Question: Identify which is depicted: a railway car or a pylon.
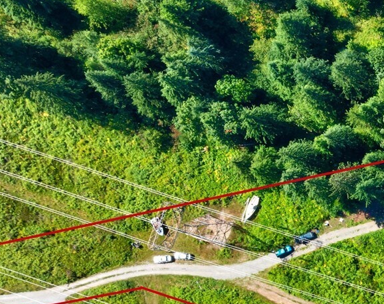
pylon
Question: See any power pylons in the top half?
No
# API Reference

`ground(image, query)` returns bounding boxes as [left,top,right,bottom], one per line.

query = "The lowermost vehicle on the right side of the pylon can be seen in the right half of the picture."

[274,244,294,259]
